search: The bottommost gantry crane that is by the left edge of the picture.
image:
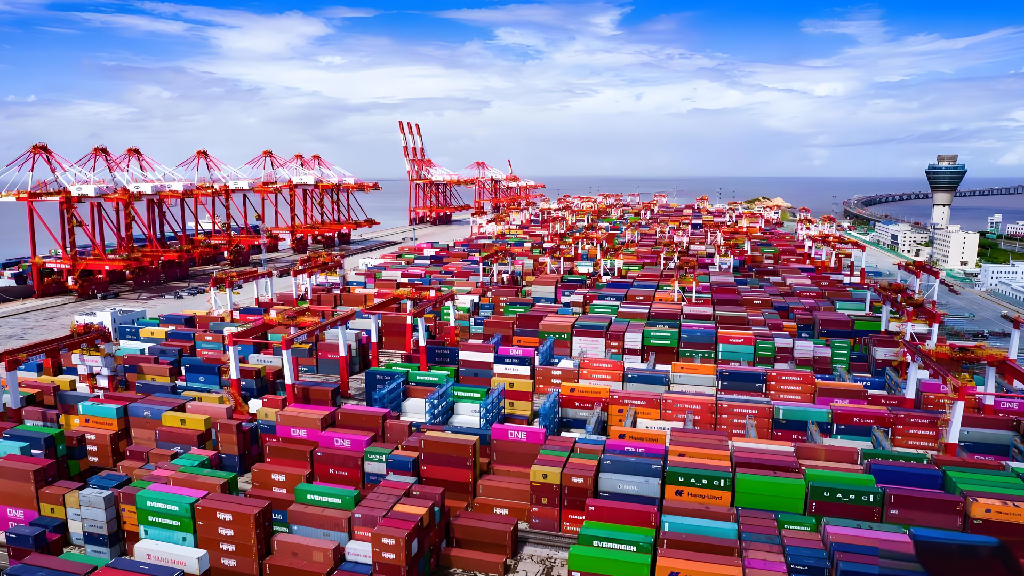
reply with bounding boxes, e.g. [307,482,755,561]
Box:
[0,309,123,423]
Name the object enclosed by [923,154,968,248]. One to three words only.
building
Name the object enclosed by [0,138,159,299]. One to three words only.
container crane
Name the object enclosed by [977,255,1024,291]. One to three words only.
building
